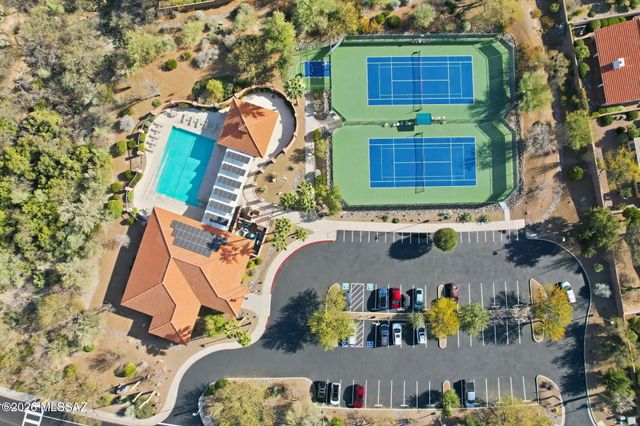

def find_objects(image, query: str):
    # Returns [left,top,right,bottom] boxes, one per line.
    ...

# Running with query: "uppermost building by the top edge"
[592,11,640,105]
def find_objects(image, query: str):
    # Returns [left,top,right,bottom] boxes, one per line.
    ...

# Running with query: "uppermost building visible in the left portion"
[218,98,279,158]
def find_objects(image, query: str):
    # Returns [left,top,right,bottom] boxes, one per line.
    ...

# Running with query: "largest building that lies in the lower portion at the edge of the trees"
[118,206,254,346]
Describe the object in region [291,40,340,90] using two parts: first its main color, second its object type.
green basketball court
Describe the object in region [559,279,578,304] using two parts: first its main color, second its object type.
white car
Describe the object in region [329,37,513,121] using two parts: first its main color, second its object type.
green tennis court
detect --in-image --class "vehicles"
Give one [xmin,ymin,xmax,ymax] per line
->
[559,279,578,304]
[354,384,364,407]
[449,282,460,304]
[392,322,402,345]
[316,380,326,402]
[346,325,354,345]
[414,289,424,310]
[391,287,401,308]
[465,380,476,405]
[330,382,341,404]
[417,324,427,345]
[380,323,390,345]
[379,287,389,309]
[342,288,351,310]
